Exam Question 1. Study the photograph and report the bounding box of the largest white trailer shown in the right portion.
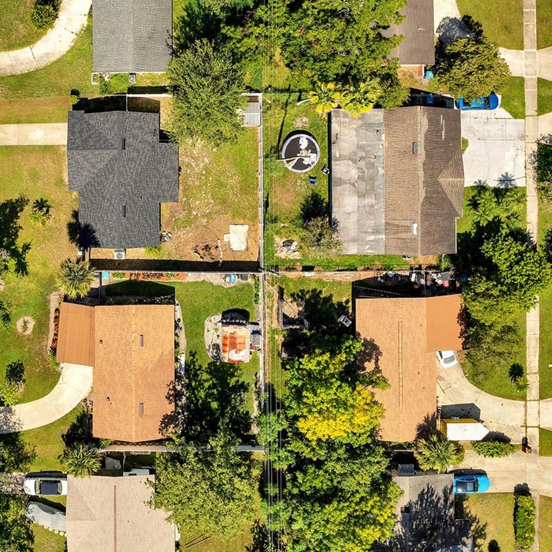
[438,415,491,440]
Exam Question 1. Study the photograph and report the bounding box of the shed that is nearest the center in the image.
[219,321,251,363]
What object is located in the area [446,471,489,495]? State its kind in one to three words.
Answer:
car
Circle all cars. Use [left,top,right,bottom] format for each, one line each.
[23,473,70,496]
[437,350,456,369]
[446,471,489,495]
[453,91,498,112]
